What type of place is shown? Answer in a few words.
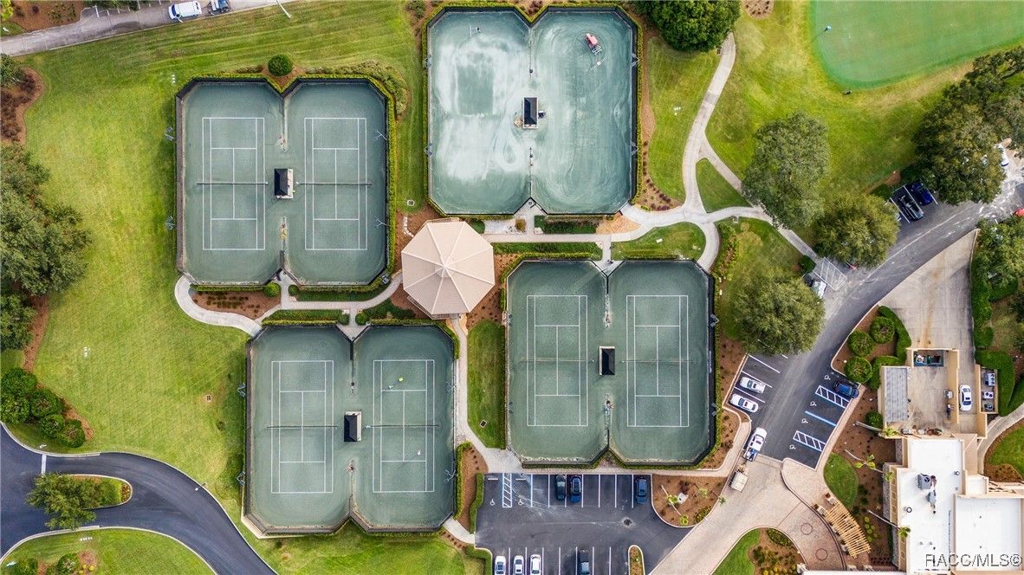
sports ground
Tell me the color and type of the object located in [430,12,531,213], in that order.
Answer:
white tennis court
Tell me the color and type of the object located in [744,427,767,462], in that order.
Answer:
white truck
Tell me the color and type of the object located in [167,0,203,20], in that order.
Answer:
white vehicle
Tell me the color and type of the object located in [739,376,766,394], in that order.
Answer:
white car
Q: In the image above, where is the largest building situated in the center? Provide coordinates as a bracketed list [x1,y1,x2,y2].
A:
[402,217,495,320]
